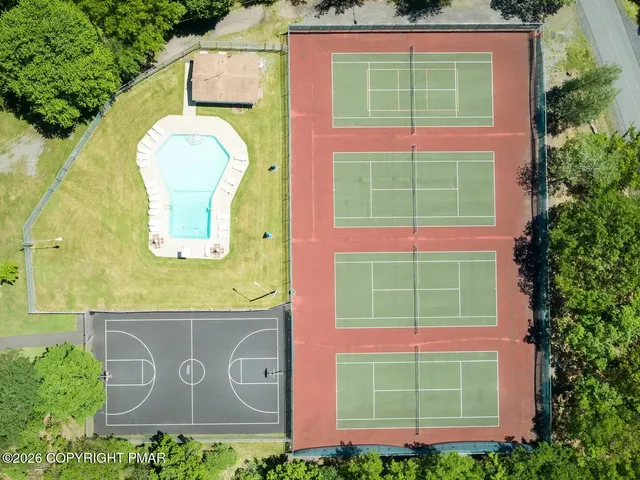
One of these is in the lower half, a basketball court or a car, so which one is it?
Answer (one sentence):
What appears in the lower half is a basketball court.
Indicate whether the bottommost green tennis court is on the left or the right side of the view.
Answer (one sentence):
The bottommost green tennis court sits on the right side.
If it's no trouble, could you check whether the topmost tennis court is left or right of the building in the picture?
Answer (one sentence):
Relative to the building, the topmost tennis court lies to the right.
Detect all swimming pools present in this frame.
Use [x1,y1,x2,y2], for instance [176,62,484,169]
[137,115,249,258]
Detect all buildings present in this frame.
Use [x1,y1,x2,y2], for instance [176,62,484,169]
[191,52,258,105]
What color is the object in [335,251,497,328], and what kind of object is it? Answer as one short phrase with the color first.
green tennis court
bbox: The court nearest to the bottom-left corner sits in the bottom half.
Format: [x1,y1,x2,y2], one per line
[92,306,292,436]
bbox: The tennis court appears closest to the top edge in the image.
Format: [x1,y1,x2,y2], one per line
[332,52,494,128]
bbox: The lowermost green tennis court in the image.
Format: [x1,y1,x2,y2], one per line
[336,351,499,429]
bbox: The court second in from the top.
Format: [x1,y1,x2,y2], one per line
[334,151,496,228]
